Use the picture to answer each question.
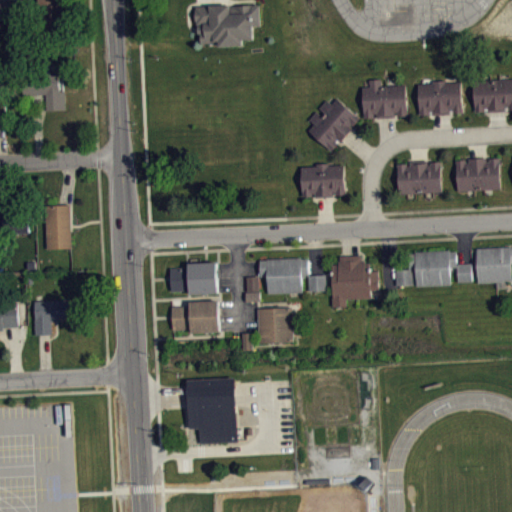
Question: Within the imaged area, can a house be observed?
Yes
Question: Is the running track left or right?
right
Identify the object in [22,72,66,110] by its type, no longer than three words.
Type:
house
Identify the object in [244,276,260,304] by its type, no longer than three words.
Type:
building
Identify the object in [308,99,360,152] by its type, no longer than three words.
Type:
house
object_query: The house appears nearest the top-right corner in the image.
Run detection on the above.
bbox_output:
[470,80,512,114]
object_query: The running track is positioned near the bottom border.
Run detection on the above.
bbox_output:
[386,390,512,512]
